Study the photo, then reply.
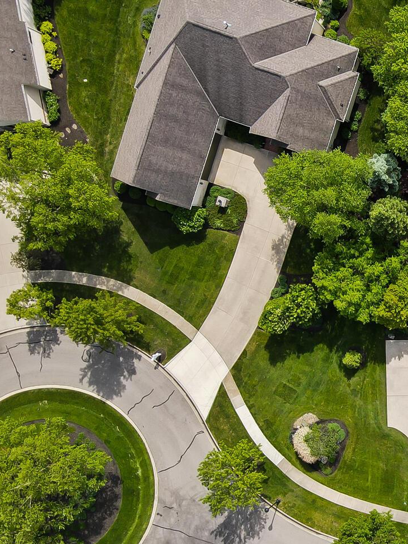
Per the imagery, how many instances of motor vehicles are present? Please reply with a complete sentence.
The count of motor vehicles is 0.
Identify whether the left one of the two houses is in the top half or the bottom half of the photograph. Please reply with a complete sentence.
Seen from above, the left one of the two houses lies in the top half of the view.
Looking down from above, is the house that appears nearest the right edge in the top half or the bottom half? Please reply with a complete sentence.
The top half of the photo is where the house that appears nearest the right edge is.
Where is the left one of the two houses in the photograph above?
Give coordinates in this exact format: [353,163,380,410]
[0,0,55,132]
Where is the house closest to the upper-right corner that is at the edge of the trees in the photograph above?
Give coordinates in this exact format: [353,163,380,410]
[110,0,371,210]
